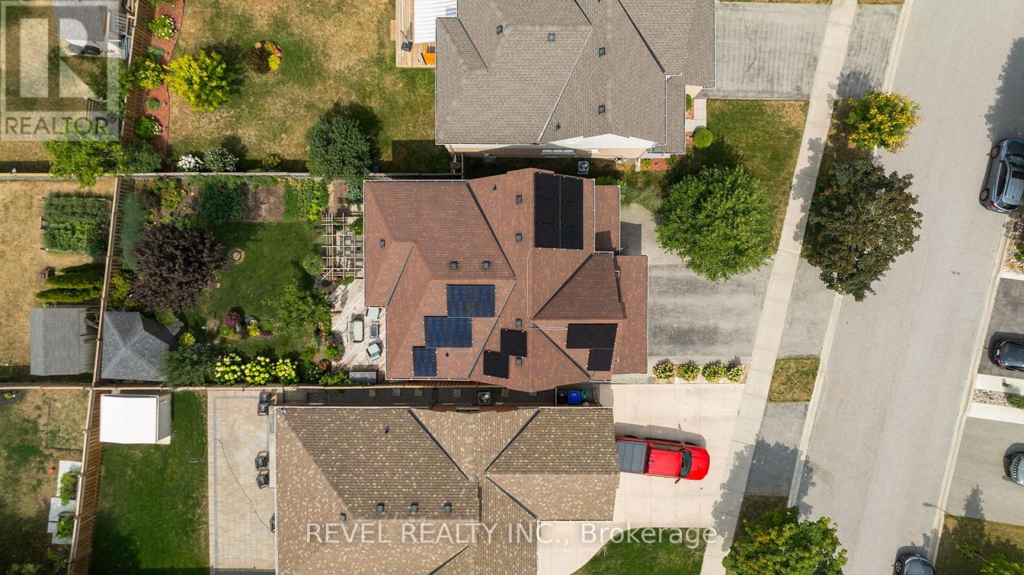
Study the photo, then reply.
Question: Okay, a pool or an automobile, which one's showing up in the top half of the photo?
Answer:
automobile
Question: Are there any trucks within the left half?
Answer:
No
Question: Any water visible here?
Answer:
No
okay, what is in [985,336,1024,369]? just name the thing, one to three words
car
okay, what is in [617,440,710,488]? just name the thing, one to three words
truck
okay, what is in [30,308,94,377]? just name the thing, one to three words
shed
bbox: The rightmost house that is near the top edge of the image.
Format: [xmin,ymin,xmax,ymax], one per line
[435,0,717,162]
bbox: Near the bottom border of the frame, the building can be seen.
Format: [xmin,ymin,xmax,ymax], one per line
[274,398,620,575]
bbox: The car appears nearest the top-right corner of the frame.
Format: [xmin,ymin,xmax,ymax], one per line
[978,136,1024,214]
